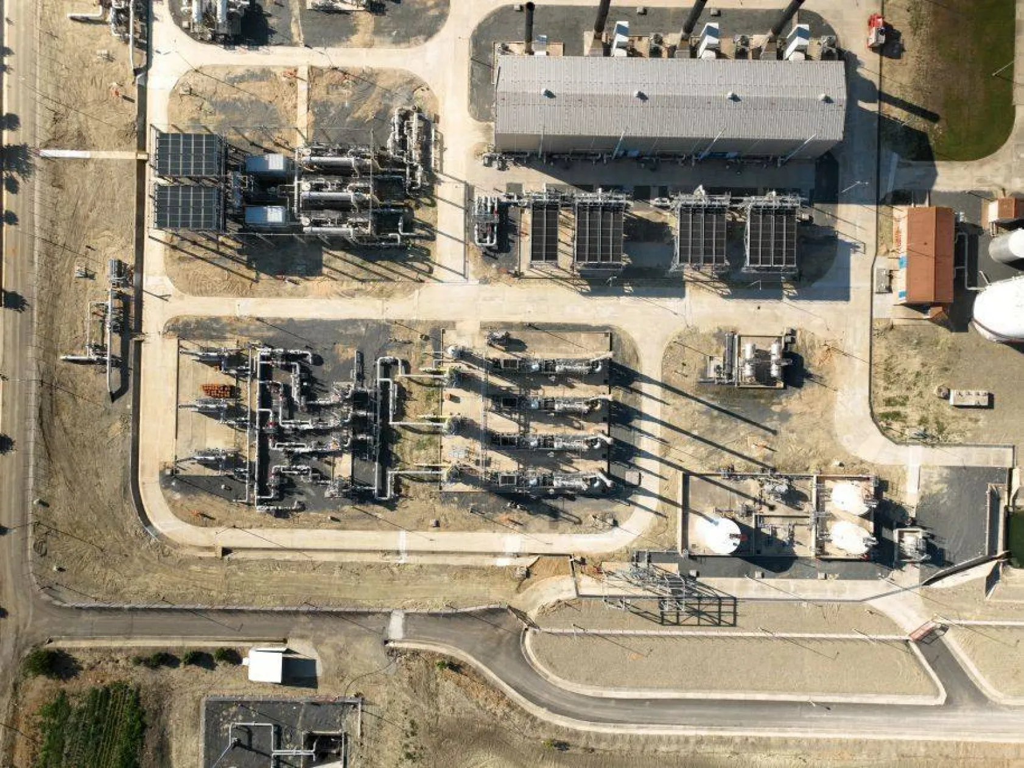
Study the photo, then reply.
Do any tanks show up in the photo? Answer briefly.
Yes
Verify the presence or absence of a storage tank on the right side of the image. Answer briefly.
Yes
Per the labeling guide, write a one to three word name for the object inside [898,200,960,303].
building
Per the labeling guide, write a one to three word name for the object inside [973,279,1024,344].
storage tank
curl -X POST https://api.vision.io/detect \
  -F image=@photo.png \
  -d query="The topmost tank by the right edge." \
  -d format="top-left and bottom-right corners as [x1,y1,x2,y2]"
[990,227,1024,262]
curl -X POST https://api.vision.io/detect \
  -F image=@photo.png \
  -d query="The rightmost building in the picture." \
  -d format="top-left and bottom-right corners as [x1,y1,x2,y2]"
[990,196,1024,226]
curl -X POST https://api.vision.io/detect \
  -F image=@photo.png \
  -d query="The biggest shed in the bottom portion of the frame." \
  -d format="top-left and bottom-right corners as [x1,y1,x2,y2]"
[245,643,288,683]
